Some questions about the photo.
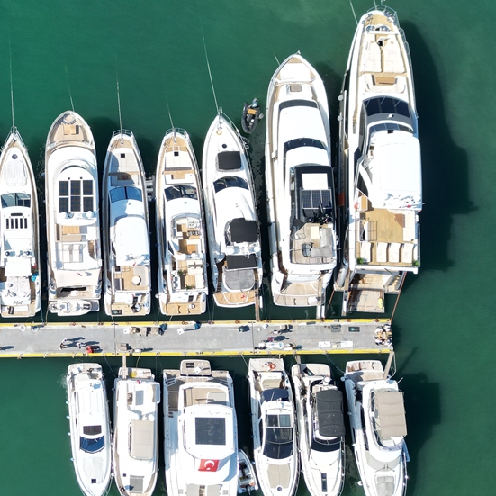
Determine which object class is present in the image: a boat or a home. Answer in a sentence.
The image shows a boat.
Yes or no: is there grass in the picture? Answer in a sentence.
No, the picture contains no grass.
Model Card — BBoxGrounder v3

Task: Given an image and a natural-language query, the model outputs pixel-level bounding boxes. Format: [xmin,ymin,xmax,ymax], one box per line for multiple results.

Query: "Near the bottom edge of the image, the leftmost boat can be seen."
[64,352,115,496]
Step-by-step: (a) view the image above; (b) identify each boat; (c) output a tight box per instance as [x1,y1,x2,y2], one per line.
[328,0,437,320]
[327,355,412,496]
[64,352,115,496]
[260,45,352,319]
[49,300,92,314]
[239,449,254,494]
[153,102,210,321]
[41,71,104,322]
[110,356,164,496]
[201,41,266,322]
[291,358,347,496]
[241,100,262,135]
[157,355,241,496]
[0,115,44,318]
[101,83,155,322]
[241,352,300,496]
